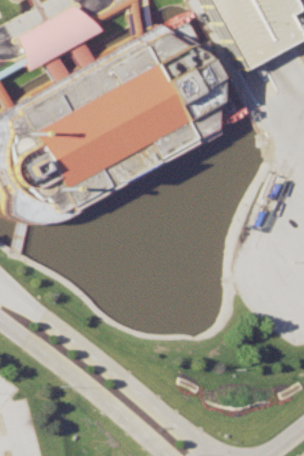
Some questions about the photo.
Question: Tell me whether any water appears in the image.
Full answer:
Yes, water shows up in the scene.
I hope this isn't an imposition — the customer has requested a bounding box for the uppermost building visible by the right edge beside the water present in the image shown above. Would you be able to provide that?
[212,0,304,72]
